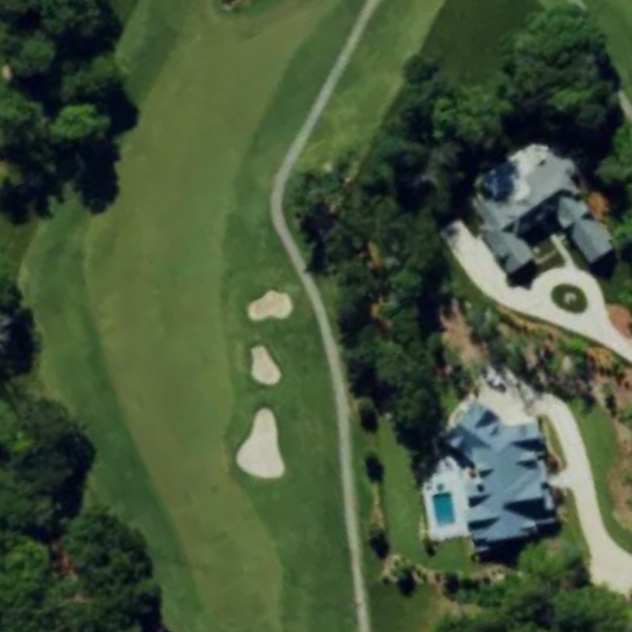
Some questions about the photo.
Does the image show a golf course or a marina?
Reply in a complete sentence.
What you see here is a golf course.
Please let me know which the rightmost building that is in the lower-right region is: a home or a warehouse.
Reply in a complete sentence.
It turns out the rightmost building that is in the lower-right region is a home.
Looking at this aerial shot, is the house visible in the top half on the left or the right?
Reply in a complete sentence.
The house visible in the top half is on the right side of the image.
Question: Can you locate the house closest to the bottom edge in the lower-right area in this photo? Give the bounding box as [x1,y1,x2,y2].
[442,397,562,553]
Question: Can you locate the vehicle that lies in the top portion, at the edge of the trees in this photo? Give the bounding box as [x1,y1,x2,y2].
[442,227,459,240]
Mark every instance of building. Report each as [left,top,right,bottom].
[442,397,562,553]
[467,147,619,270]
